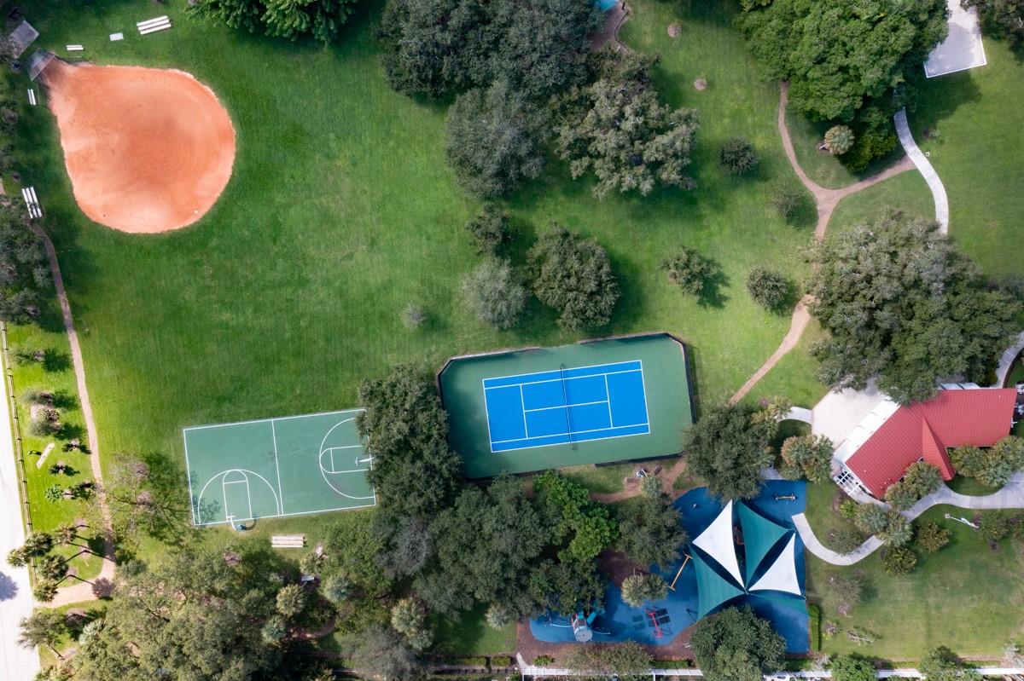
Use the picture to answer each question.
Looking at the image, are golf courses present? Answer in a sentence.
No, no golf course is visible in the scene.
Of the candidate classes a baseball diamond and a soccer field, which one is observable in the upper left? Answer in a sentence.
Looking in the upper left, you will find a baseball diamond.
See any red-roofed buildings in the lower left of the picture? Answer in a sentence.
No, there is no red-roofed building in the lower left of the picture.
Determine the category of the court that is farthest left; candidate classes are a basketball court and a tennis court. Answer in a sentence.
The court that is farthest left appears to be a basketball court.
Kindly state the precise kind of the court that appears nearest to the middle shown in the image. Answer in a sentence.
From above, the court that appears nearest to the middle can be identified as a tennis court.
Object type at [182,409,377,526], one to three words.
basketball court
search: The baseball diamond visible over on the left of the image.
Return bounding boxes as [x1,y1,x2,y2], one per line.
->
[39,57,235,234]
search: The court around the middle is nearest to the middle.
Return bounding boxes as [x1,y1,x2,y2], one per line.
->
[438,334,693,478]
